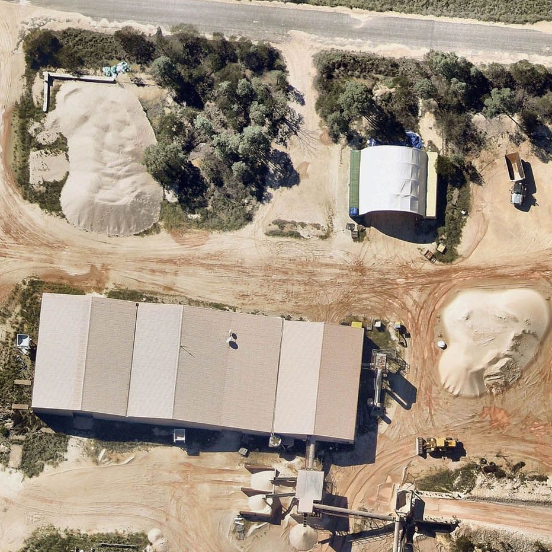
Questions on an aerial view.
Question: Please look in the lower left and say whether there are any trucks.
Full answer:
No, there's no truck to be seen in the lower left.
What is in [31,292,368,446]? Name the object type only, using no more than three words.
shed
